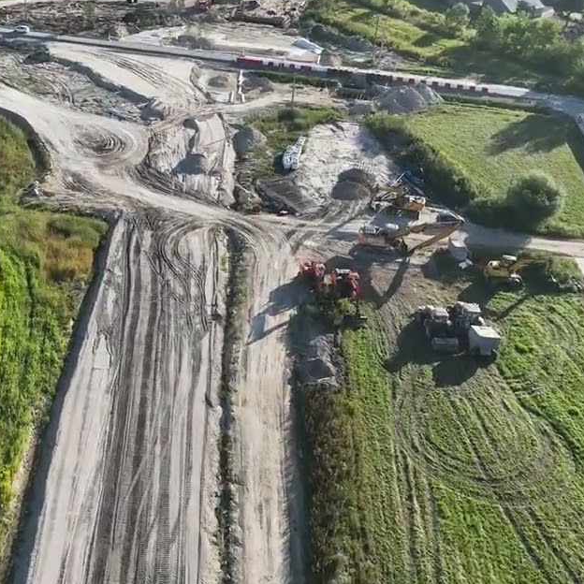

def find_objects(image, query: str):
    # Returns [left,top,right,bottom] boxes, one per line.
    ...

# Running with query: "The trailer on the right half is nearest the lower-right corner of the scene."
[473,324,507,352]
